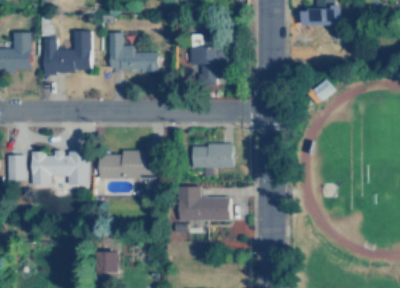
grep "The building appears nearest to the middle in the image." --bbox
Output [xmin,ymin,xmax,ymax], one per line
[192,143,236,168]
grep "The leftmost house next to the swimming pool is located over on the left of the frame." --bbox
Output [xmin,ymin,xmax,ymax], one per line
[30,150,92,186]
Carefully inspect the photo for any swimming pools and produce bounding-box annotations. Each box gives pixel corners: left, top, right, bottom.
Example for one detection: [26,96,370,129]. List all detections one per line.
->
[94,178,136,196]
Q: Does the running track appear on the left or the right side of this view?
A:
right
